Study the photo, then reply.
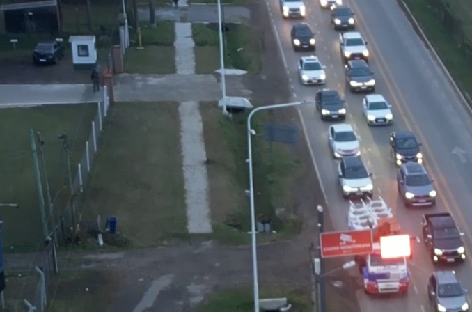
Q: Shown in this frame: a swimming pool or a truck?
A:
truck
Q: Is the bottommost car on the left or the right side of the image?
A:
right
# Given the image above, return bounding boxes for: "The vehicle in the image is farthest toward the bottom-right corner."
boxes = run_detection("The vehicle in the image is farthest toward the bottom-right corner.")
[425,265,468,312]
